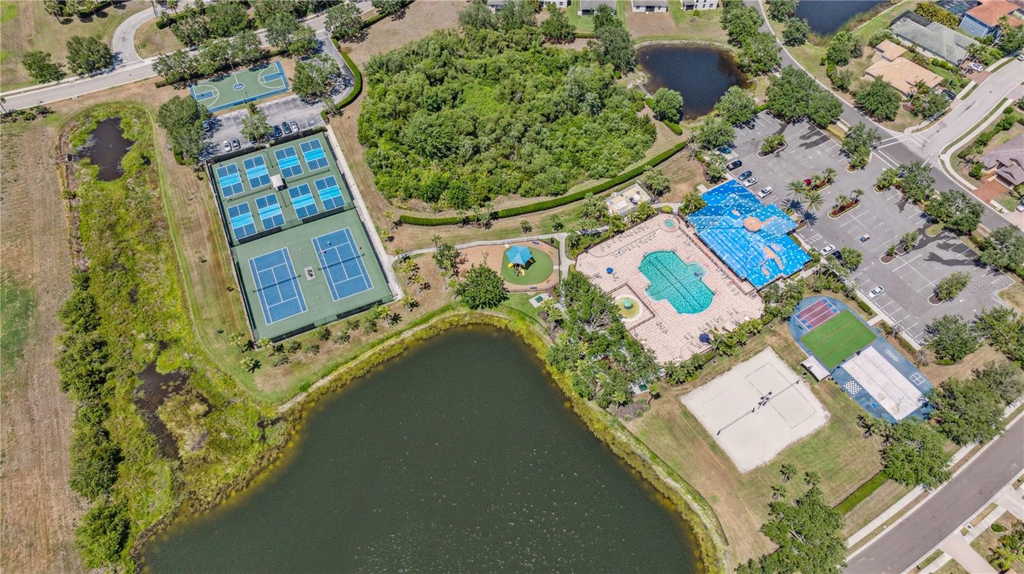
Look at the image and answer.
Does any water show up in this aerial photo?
Yes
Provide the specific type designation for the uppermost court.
basketball court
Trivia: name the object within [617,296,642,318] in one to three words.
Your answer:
fountain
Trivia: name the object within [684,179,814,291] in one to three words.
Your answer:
building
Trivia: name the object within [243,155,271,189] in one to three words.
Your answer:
sports court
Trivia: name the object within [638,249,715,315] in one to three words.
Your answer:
swimming pool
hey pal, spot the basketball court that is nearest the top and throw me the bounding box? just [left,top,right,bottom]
[192,60,291,113]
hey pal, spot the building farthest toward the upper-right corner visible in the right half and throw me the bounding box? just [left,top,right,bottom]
[955,0,1022,39]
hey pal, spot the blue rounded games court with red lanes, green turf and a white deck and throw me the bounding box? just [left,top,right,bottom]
[787,295,933,424]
